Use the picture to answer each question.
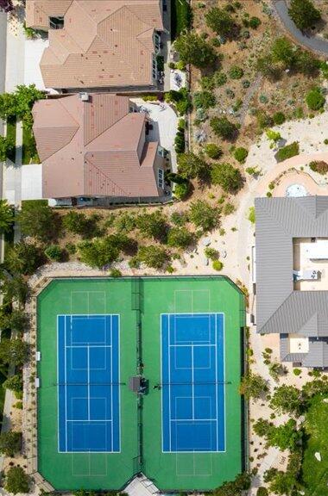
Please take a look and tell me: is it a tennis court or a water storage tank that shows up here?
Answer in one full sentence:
The one in the frame is a tennis court.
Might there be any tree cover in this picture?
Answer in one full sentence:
Yes, there is tree cover in the image.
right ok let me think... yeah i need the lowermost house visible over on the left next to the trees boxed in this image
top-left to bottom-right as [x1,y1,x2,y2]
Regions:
[32,91,163,198]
